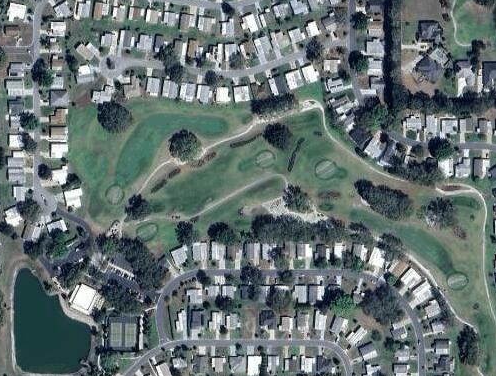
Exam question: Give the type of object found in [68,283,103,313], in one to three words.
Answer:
building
